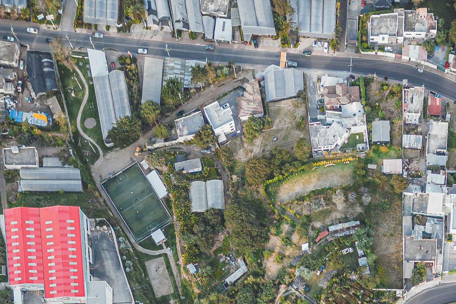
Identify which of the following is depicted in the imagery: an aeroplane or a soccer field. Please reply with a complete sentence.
It is a soccer field that can be seen here.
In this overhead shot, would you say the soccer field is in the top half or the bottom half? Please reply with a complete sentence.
It is in the bottom half that the soccer field appears.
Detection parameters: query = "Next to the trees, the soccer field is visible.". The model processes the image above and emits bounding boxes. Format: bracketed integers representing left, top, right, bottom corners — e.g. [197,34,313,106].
[99,162,170,240]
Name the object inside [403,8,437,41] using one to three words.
house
